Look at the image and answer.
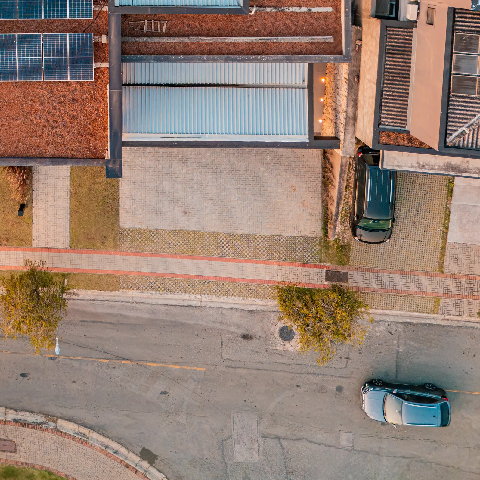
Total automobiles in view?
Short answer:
2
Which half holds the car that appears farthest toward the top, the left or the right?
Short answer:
right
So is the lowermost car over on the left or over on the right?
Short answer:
right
